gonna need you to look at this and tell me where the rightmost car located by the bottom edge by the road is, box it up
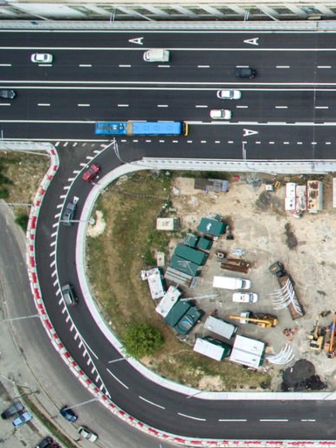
[76,426,97,443]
